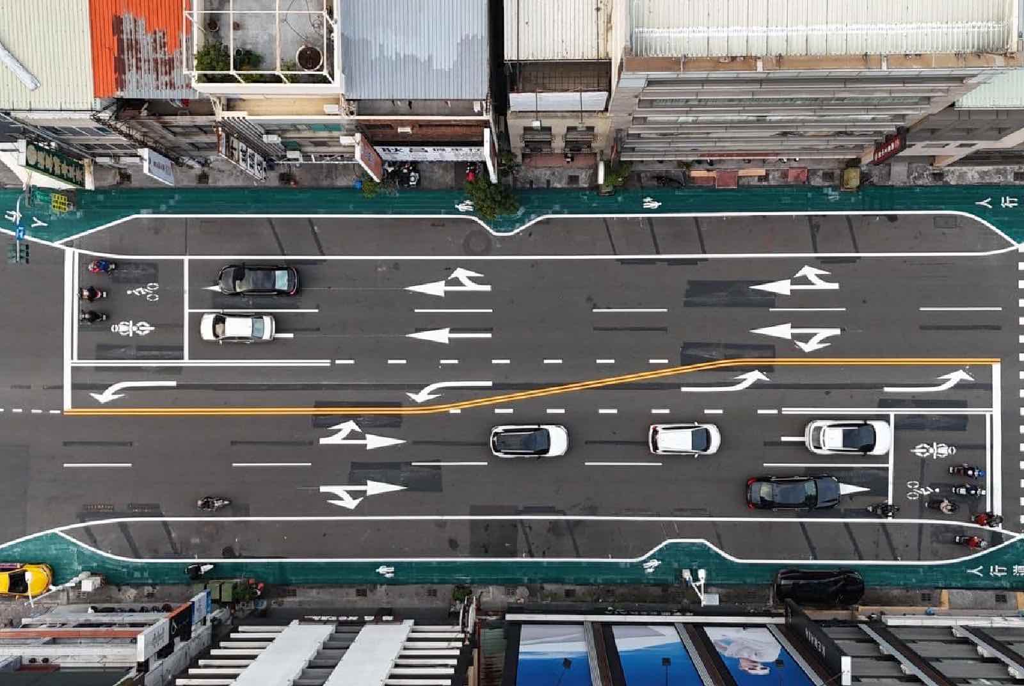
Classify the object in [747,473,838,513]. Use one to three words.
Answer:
car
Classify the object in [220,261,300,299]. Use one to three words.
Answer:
car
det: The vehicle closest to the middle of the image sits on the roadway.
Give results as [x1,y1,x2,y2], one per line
[490,421,568,460]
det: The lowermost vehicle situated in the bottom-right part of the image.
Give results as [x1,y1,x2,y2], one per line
[773,569,862,610]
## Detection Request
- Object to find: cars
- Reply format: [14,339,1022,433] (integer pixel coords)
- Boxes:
[747,473,838,513]
[0,560,57,600]
[220,261,300,299]
[201,309,276,346]
[804,417,889,458]
[773,569,862,610]
[649,421,720,458]
[490,421,568,460]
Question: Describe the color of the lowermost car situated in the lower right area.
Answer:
black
